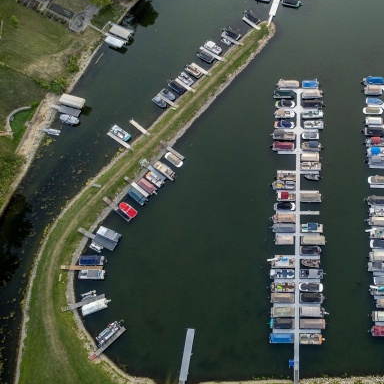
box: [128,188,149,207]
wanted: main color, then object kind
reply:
blue boat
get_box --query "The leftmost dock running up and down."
[179,329,195,384]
